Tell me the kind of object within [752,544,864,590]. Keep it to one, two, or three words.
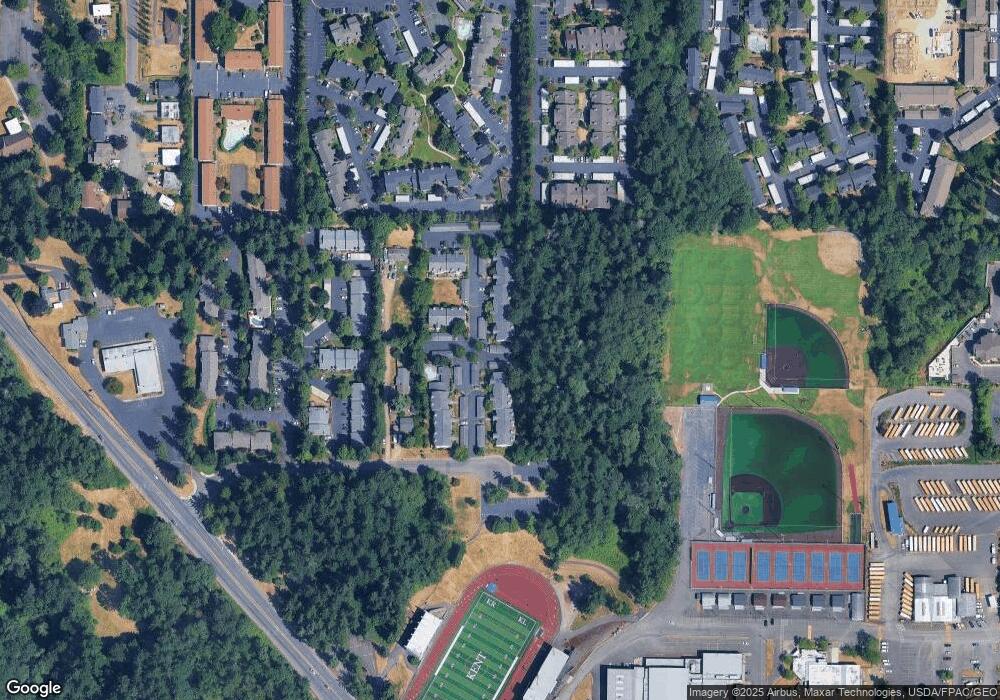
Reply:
tennis court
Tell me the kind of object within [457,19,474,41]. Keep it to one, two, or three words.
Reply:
swimming pool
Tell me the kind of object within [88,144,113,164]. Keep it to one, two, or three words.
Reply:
house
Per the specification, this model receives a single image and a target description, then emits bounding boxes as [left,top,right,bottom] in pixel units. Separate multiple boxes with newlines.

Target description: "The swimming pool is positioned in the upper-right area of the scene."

[747,32,769,53]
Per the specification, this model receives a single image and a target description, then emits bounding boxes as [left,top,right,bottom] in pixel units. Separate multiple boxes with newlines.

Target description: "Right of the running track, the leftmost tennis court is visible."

[691,543,750,589]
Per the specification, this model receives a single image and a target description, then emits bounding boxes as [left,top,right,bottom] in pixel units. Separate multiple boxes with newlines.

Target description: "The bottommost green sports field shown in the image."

[416,587,542,700]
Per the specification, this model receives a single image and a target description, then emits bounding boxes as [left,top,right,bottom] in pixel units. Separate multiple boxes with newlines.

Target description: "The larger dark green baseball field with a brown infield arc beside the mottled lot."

[718,407,843,543]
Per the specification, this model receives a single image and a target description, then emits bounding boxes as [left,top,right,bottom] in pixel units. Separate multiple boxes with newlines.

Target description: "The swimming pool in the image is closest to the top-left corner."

[223,121,251,150]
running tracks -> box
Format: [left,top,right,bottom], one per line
[403,563,558,700]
